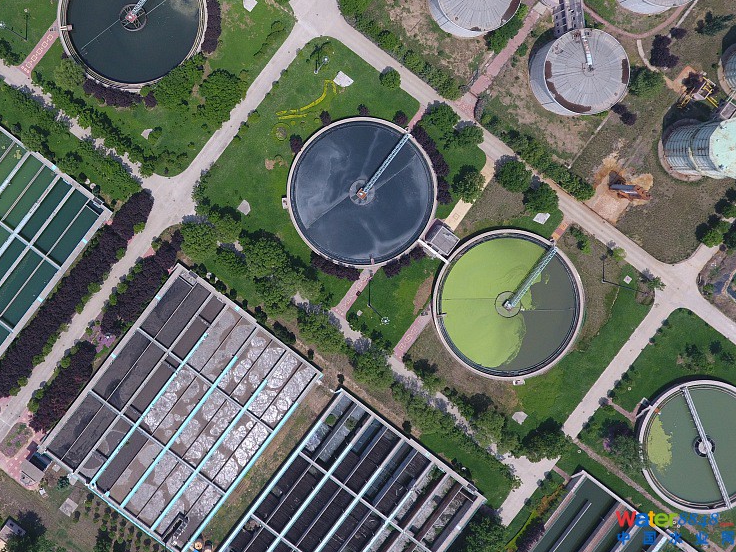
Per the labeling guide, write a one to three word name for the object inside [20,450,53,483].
building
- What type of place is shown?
industrial area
